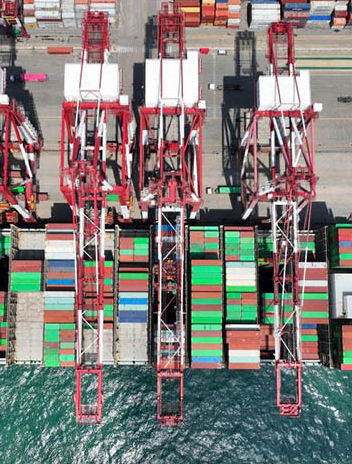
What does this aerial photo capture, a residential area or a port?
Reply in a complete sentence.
This image shows a port.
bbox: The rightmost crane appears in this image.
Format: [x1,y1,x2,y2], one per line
[225,19,329,415]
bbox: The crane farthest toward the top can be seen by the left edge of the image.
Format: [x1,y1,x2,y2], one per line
[2,0,34,33]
